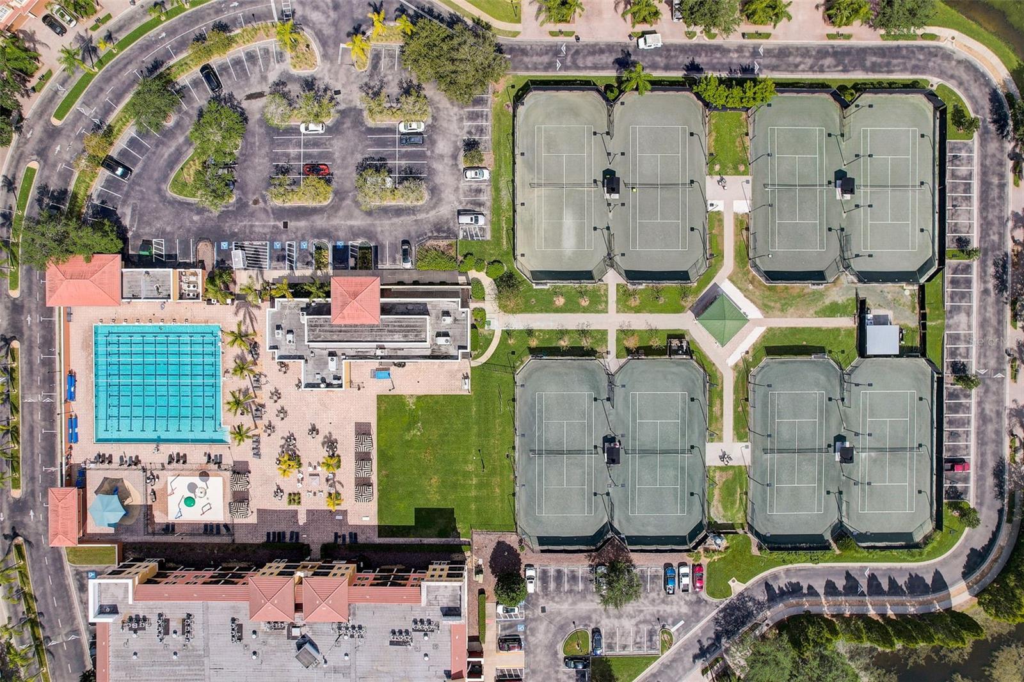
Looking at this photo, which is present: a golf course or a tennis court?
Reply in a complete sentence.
It is a tennis court that can be seen here.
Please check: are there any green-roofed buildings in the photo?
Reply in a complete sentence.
Yes, a green-roofed building can be made out from above.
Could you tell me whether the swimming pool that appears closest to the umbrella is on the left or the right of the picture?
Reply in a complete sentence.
The swimming pool that appears closest to the umbrella sits on the left side.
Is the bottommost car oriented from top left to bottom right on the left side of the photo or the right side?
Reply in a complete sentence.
You can find the bottommost car oriented from top left to bottom right on the left side of the picture.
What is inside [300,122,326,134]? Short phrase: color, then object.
white vehicle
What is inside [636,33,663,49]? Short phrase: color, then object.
white vehicle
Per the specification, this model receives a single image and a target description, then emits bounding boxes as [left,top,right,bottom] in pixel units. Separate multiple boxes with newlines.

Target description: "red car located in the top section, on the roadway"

[305,163,329,175]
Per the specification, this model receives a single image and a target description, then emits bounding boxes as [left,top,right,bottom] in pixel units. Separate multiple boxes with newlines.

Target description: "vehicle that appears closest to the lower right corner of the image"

[945,461,971,473]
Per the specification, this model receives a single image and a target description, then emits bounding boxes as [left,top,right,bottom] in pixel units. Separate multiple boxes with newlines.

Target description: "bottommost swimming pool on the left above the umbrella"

[92,323,230,444]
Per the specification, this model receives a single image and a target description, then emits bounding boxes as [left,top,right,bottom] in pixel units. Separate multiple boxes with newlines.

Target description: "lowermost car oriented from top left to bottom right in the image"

[103,157,131,178]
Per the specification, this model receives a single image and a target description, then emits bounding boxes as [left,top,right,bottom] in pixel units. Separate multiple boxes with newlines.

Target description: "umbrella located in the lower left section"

[89,495,127,526]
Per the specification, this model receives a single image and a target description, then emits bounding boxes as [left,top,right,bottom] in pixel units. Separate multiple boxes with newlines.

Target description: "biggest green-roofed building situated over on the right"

[696,293,750,347]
